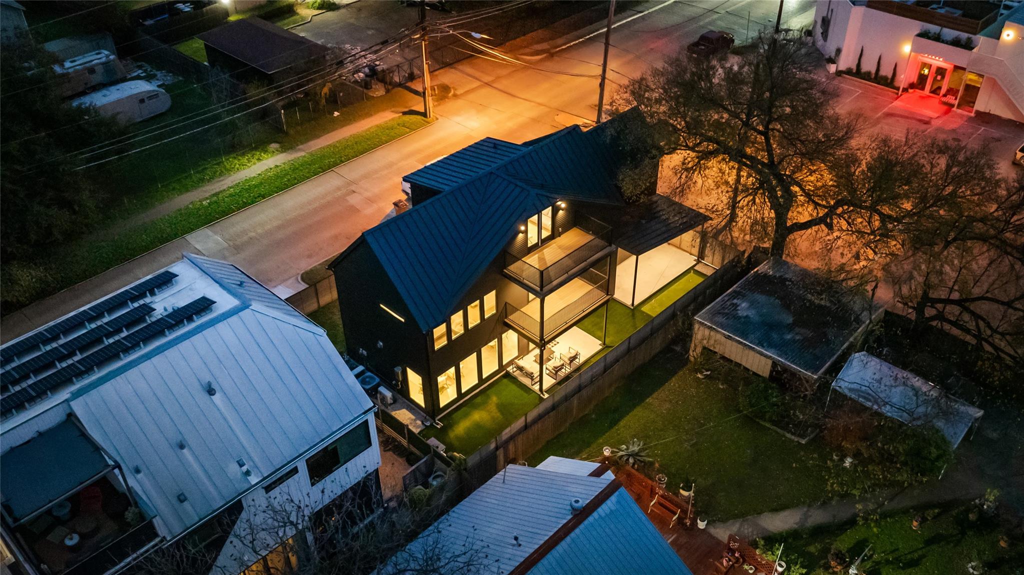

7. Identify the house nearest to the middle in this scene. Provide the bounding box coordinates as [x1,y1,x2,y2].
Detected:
[323,104,713,430]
